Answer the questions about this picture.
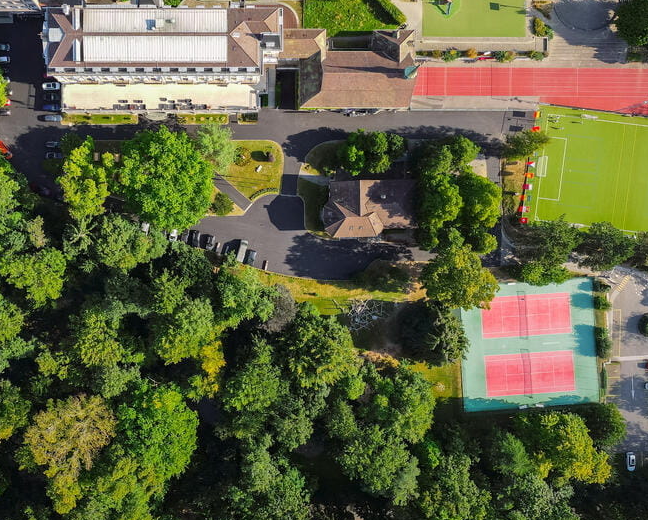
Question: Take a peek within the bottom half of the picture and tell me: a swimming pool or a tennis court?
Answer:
tennis court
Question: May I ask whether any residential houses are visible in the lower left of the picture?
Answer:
No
